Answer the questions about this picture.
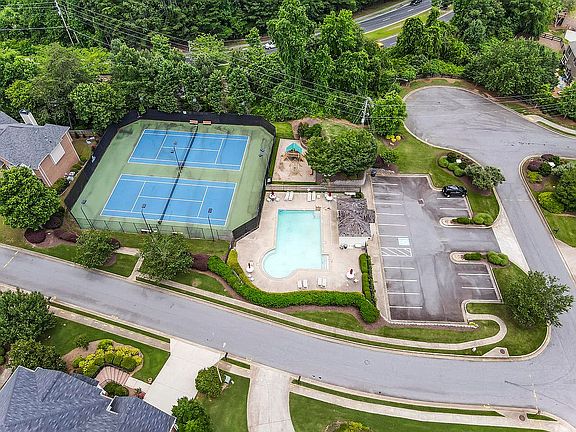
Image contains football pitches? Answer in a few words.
No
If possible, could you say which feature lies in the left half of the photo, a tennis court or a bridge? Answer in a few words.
tennis court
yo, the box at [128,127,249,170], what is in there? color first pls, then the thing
blue tennis court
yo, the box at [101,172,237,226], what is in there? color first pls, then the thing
blue tennis court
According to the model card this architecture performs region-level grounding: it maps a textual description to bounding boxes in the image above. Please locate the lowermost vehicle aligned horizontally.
[443,184,469,198]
